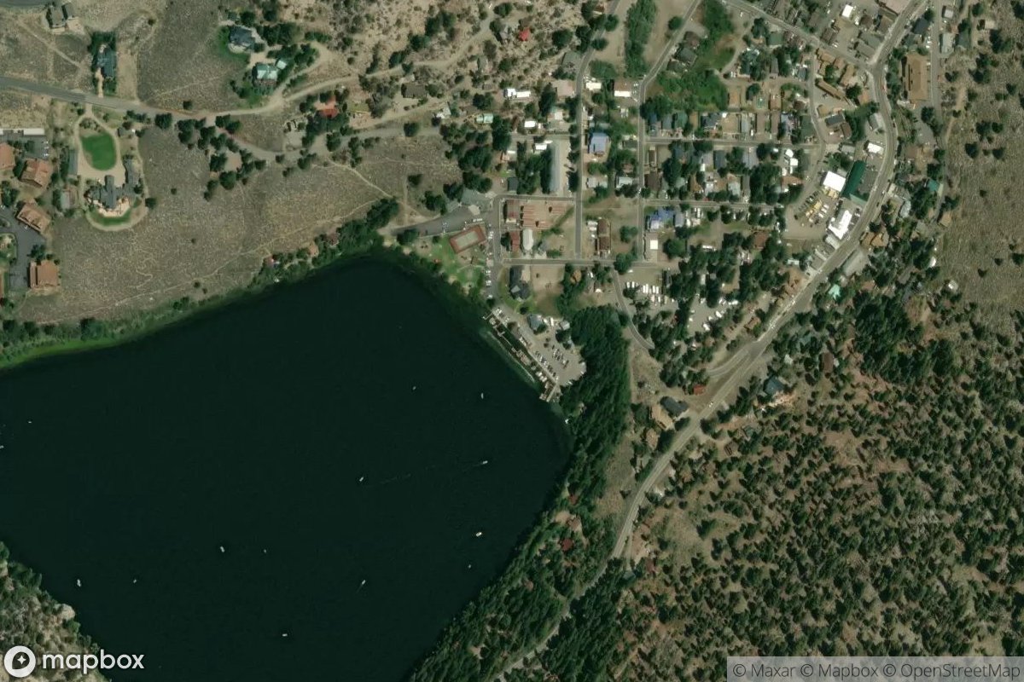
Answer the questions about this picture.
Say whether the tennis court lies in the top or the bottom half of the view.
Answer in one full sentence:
Seen from above, the tennis court lies in the top half of the view.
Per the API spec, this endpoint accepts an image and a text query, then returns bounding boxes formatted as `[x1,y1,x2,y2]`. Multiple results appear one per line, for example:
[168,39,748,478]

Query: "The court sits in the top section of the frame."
[450,224,486,253]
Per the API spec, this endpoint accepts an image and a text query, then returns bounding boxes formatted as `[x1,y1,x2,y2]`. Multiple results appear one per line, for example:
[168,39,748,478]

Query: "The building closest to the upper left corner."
[47,3,76,27]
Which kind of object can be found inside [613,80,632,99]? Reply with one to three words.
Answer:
house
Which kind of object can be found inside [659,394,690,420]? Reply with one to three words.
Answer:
house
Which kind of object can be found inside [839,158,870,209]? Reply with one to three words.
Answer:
building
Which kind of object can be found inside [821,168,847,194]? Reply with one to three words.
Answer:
building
